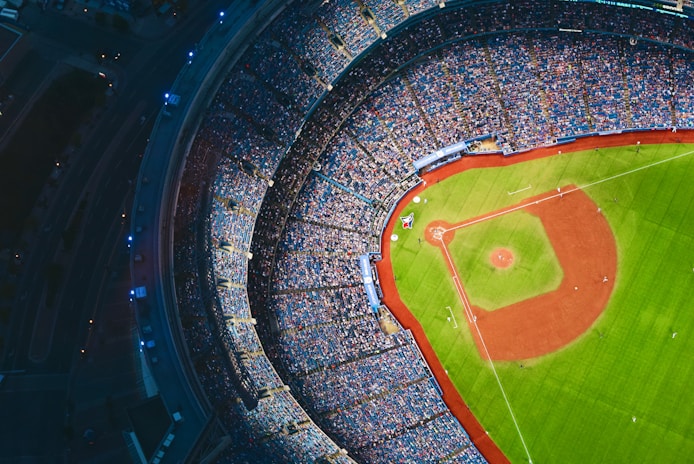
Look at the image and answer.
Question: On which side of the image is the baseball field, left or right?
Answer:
right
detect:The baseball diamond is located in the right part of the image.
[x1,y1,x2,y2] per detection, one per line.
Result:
[379,133,694,464]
